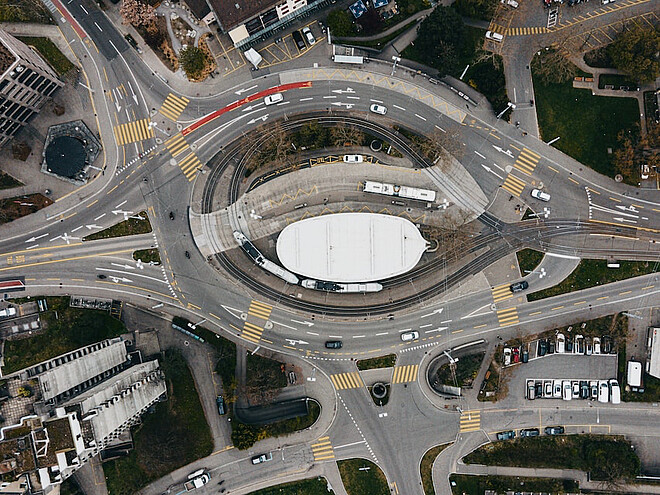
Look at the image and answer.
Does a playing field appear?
No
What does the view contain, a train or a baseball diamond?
train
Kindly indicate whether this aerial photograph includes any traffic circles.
Yes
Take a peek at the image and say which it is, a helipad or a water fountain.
water fountain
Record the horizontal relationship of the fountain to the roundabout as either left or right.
on its left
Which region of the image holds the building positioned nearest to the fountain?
top left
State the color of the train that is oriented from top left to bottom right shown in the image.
white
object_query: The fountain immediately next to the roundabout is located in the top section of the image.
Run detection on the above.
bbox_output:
[39,119,102,184]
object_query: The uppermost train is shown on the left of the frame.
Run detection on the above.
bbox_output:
[229,231,298,285]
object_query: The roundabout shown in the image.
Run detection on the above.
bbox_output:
[118,81,590,359]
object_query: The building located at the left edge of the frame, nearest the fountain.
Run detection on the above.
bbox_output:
[0,15,64,151]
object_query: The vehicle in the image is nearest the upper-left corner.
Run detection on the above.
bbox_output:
[124,34,141,53]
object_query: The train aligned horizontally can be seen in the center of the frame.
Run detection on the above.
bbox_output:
[300,279,385,293]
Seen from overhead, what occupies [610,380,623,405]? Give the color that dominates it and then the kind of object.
white vehicle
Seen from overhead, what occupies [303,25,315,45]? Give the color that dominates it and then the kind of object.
white vehicle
